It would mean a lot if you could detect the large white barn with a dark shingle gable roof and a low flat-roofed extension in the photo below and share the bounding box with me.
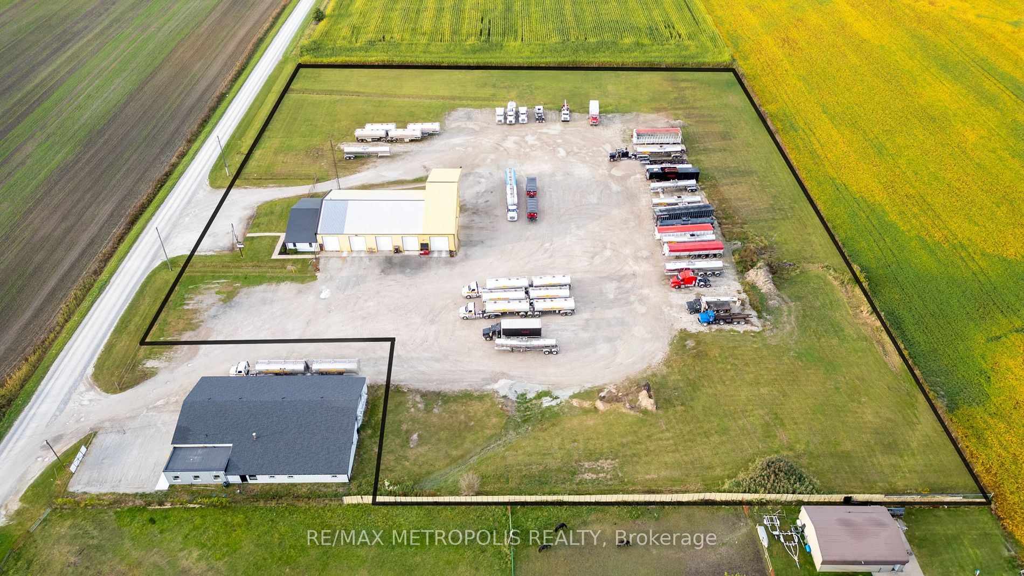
[160,377,370,483]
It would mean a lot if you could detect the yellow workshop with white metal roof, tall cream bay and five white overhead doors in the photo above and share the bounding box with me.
[312,167,463,251]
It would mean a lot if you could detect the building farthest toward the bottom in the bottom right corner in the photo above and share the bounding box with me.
[799,505,913,573]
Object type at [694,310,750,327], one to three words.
vehicle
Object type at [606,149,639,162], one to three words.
vehicle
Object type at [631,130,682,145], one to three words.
trailer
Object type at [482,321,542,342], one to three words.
truck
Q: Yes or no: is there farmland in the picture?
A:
Yes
